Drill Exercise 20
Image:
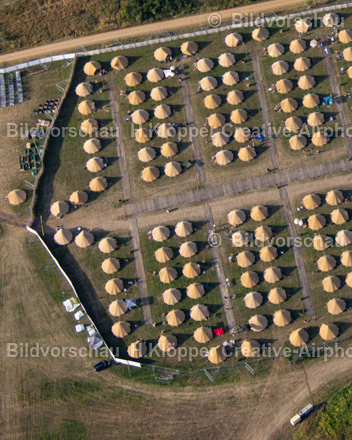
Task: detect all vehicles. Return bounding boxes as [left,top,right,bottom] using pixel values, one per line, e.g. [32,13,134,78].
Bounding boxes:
[289,402,315,425]
[92,358,112,371]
